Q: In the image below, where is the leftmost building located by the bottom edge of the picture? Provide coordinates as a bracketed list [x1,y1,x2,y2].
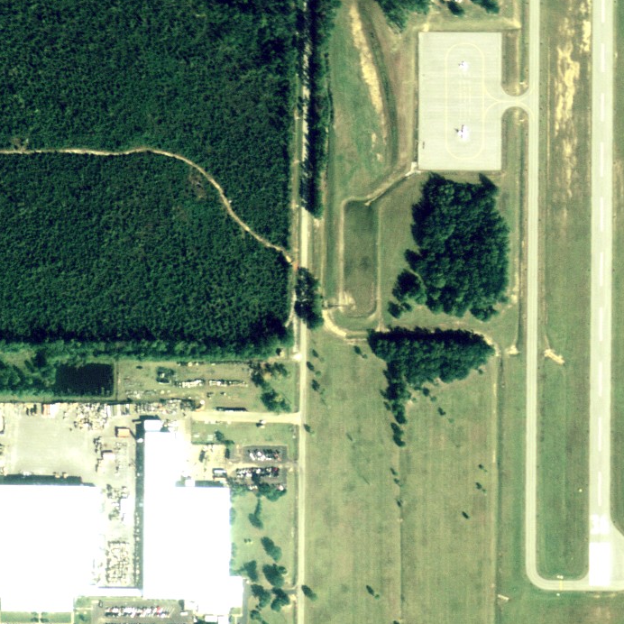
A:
[0,482,96,613]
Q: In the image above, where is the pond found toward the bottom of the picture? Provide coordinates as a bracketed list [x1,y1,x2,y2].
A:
[55,364,114,395]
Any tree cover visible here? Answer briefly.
Yes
